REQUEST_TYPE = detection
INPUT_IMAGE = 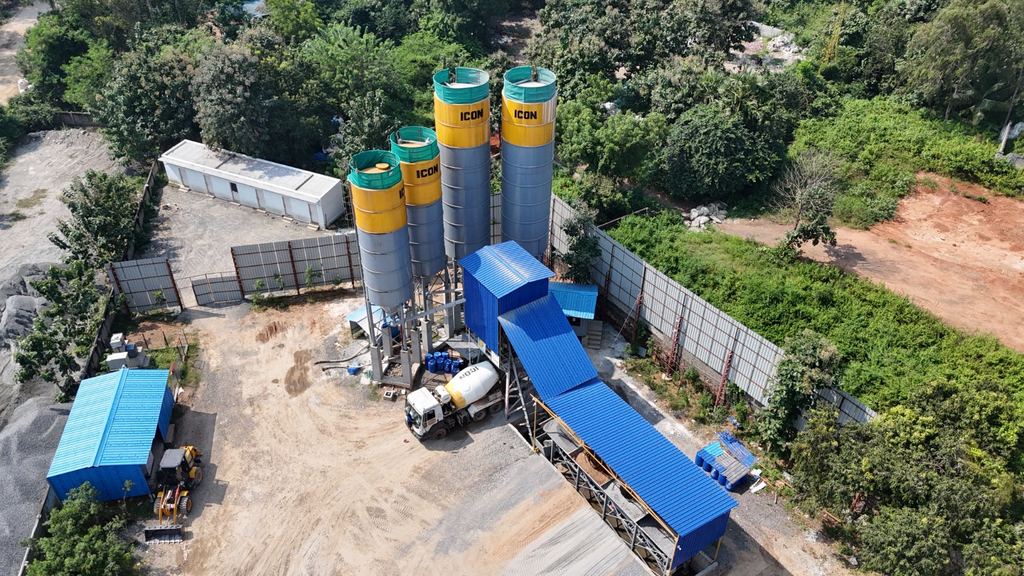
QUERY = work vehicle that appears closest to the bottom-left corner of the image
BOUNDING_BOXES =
[145,449,207,544]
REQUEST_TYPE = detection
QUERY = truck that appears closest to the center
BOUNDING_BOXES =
[404,366,513,445]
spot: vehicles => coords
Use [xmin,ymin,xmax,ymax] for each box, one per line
[145,449,207,544]
[404,366,513,445]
